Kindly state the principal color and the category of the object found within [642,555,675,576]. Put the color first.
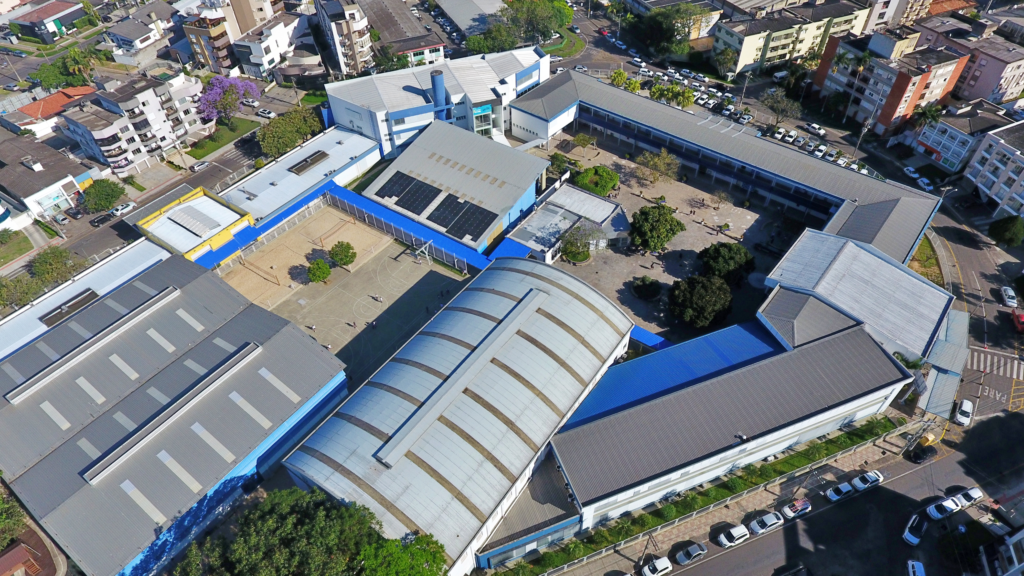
white car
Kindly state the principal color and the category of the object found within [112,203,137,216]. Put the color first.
white vehicle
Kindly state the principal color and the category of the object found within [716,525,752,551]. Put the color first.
white car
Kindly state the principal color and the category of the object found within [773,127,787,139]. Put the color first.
white vehicle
